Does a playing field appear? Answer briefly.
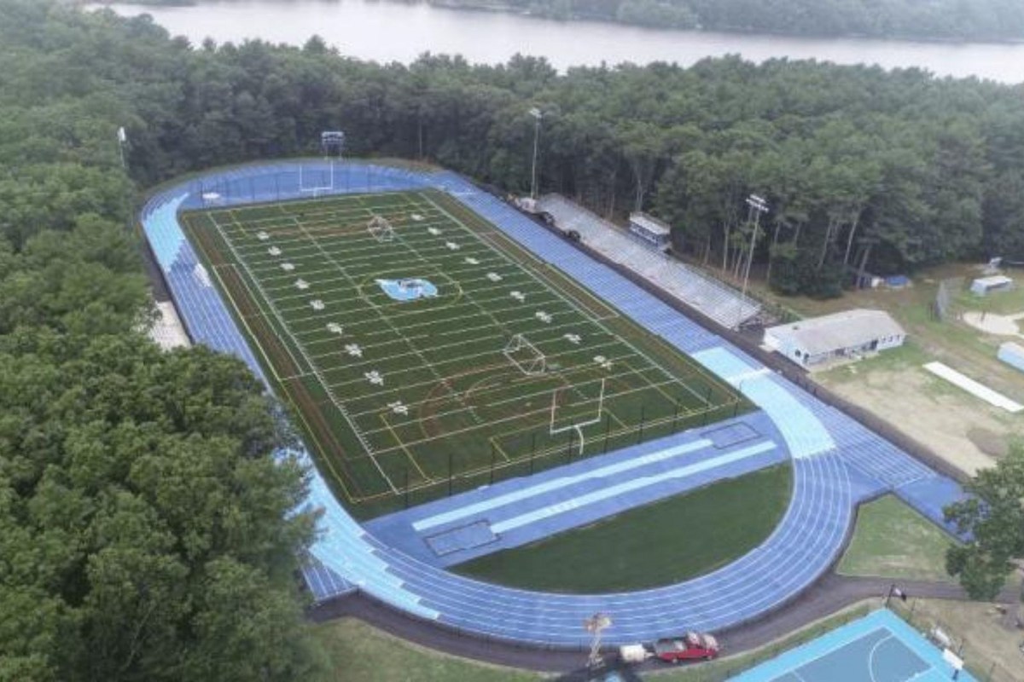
Yes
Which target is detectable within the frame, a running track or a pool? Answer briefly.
running track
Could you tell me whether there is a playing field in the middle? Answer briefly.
Yes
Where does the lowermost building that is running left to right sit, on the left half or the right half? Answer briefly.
right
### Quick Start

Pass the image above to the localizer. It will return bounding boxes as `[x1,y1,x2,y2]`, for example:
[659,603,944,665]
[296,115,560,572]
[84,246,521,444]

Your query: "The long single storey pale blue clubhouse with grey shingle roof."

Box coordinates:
[764,309,913,370]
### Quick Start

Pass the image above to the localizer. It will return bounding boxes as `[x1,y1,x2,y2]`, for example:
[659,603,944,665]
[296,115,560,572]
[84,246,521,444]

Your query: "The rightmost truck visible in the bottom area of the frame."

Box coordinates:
[655,635,722,666]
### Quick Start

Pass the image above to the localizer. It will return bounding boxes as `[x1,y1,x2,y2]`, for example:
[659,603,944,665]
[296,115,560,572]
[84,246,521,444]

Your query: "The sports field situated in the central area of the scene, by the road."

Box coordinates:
[173,184,763,524]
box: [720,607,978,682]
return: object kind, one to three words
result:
basketball court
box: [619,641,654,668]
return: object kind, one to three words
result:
trailer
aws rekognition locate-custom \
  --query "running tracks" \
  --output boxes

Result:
[138,160,998,645]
